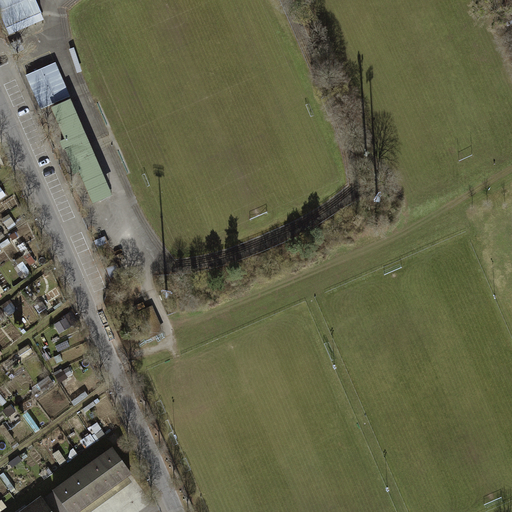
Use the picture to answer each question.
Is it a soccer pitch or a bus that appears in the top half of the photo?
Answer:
soccer pitch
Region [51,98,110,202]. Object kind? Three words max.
building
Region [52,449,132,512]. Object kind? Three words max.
barn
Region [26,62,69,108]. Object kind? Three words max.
building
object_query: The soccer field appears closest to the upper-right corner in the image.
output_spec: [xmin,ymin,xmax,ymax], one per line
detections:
[326,0,512,208]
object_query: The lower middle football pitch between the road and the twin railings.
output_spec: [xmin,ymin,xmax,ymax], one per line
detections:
[150,302,394,512]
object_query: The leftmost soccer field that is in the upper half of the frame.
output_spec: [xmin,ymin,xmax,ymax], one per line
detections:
[68,0,349,260]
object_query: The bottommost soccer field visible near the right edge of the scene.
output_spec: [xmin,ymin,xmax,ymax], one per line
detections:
[317,232,512,512]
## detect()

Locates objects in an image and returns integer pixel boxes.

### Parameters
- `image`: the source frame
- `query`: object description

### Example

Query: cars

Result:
[18,108,29,116]
[43,168,54,175]
[38,158,50,166]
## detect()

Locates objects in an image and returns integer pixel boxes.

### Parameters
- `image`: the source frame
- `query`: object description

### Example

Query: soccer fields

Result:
[150,302,394,512]
[68,0,349,260]
[326,0,512,208]
[317,232,512,512]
